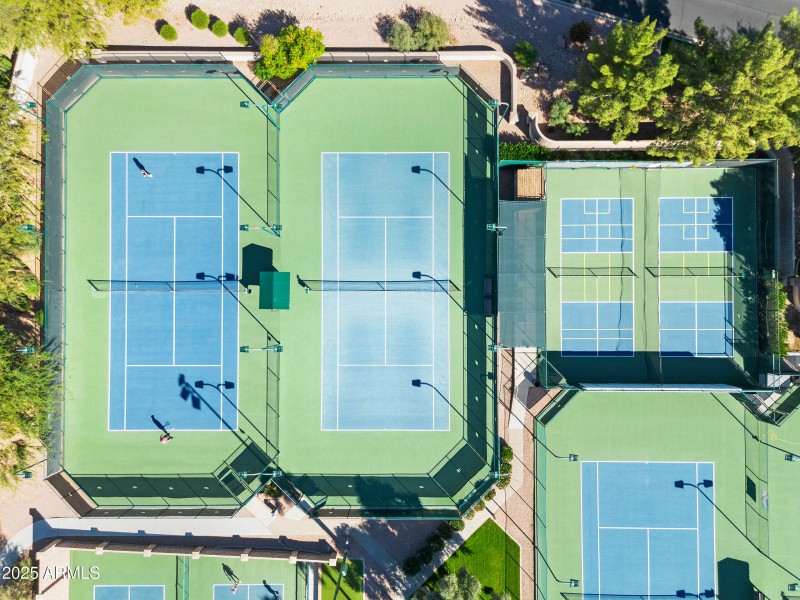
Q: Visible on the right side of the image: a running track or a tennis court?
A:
tennis court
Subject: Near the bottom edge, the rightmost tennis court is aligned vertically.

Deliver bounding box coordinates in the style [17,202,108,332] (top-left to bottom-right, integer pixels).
[760,387,800,600]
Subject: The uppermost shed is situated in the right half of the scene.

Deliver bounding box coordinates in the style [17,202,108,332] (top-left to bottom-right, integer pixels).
[514,168,543,200]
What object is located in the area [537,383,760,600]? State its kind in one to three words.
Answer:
tennis court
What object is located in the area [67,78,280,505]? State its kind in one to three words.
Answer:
tennis court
